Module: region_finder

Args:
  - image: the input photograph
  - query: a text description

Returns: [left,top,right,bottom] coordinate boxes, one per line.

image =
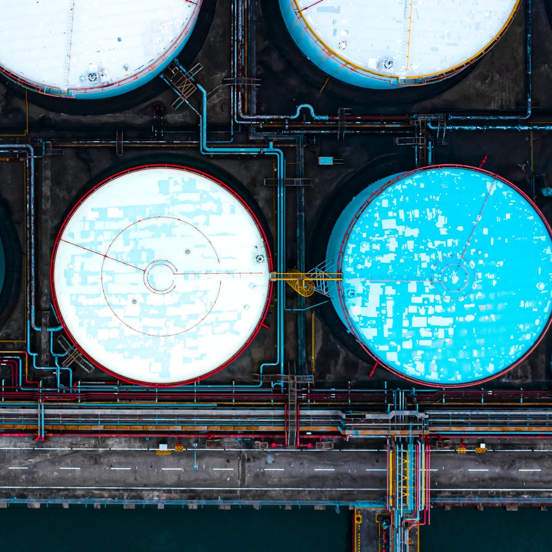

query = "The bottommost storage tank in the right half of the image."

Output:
[305,151,552,390]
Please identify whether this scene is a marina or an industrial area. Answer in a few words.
industrial area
